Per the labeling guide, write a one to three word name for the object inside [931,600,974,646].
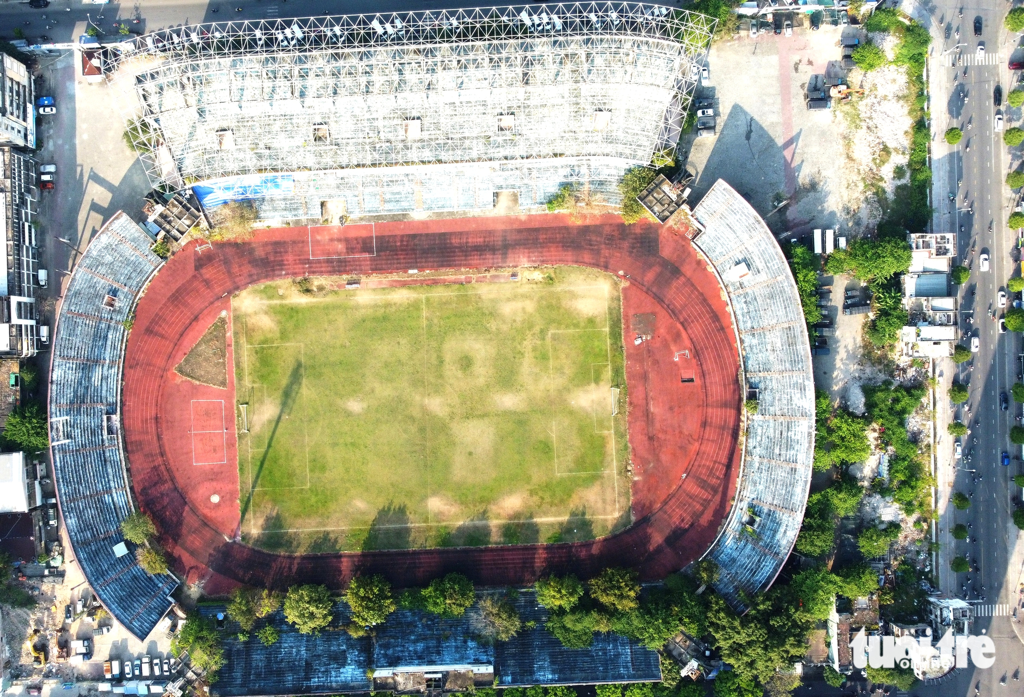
house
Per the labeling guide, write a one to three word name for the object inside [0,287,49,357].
building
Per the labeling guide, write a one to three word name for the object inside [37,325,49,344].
vehicle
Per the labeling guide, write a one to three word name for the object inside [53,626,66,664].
vehicle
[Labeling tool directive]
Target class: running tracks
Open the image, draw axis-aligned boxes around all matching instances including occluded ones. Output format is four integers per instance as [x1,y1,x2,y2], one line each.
[124,211,742,597]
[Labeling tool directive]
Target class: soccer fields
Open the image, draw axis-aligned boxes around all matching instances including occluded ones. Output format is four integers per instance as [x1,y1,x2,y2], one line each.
[232,264,634,555]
